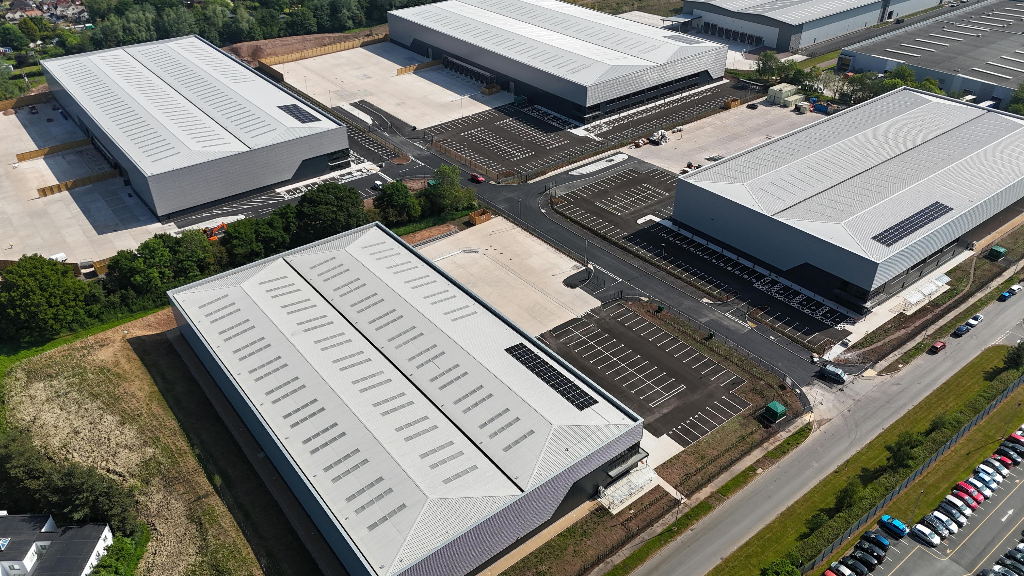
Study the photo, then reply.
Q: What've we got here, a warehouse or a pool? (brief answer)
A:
warehouse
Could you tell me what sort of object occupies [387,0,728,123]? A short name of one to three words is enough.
warehouse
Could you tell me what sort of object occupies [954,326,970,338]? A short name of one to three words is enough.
vehicle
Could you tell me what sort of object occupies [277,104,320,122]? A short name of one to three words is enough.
solar array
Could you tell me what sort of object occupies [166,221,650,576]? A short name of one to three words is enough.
warehouse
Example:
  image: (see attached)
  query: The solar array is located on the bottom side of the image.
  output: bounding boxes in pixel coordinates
[504,344,599,410]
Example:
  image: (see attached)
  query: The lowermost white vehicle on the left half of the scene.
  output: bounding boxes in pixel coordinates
[48,250,69,263]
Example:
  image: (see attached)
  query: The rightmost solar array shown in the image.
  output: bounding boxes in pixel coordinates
[871,200,953,247]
